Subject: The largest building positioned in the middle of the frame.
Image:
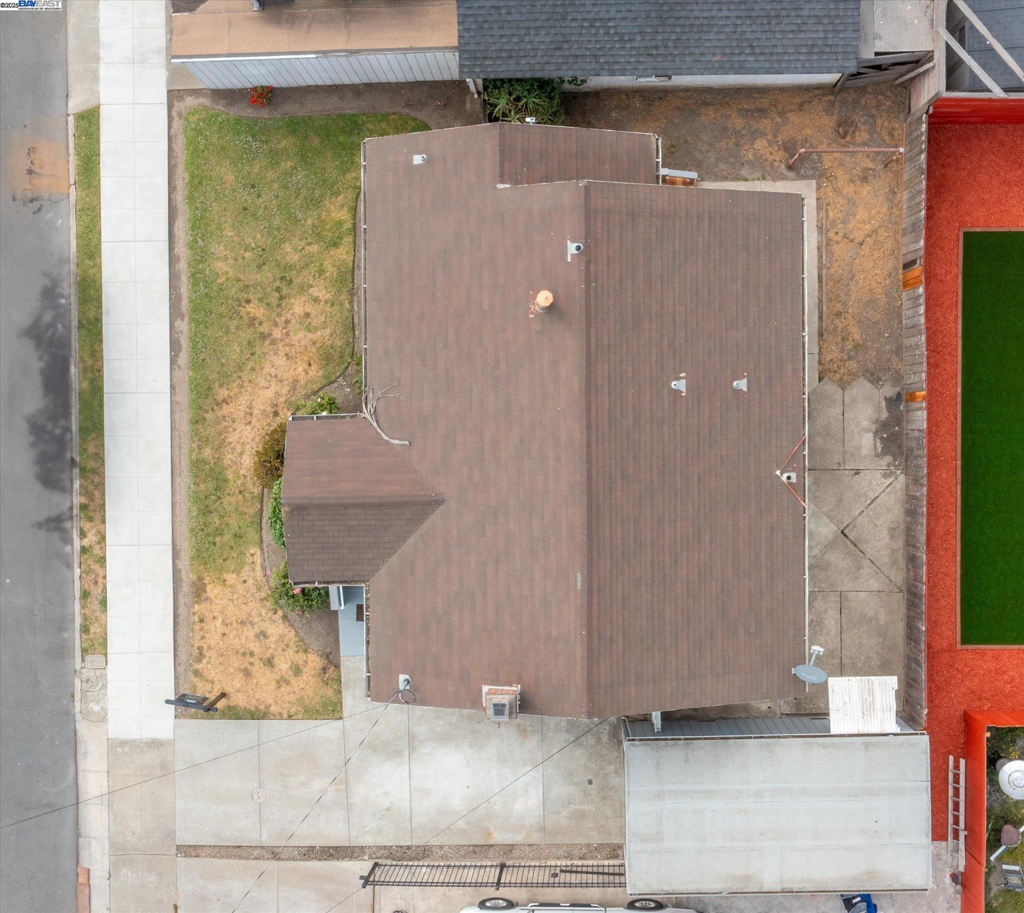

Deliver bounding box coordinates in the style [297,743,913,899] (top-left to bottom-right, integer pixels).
[282,121,811,719]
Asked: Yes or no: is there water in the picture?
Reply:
No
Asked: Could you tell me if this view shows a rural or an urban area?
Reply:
urban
